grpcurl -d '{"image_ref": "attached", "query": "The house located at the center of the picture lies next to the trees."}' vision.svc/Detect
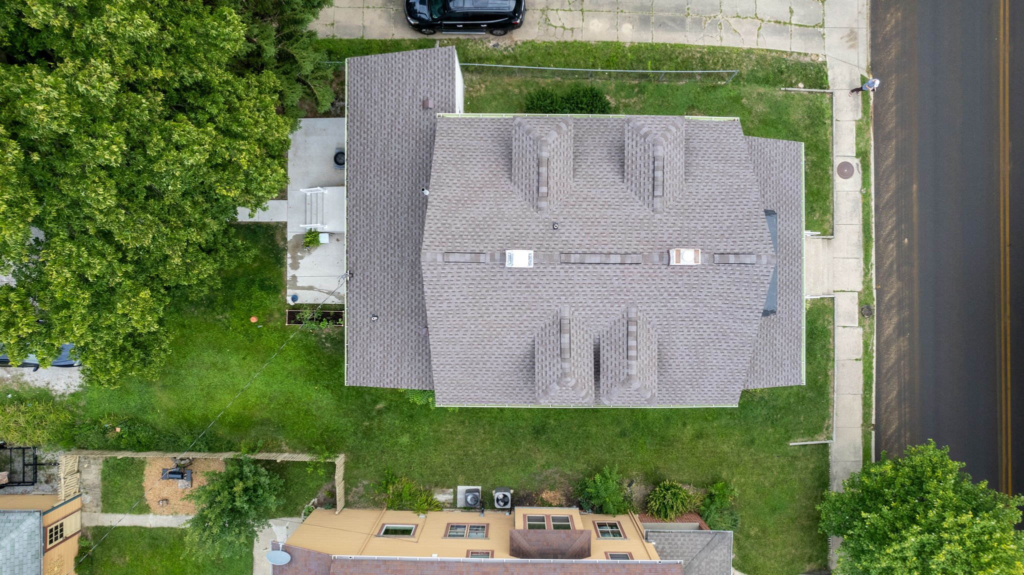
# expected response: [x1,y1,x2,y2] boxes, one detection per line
[343,46,807,407]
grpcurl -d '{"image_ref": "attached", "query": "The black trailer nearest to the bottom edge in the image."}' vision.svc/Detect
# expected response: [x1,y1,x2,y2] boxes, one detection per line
[0,441,58,487]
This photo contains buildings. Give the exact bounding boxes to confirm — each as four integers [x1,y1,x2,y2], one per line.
[0,494,82,575]
[269,502,734,575]
[343,46,807,407]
